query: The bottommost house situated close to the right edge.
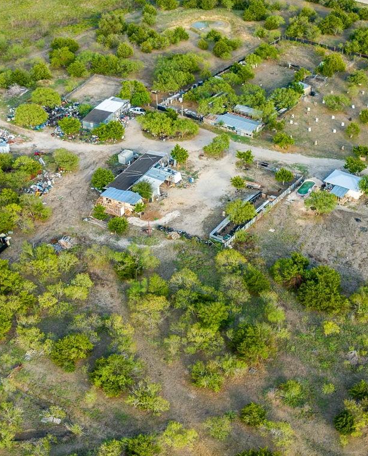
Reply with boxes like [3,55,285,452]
[323,170,364,205]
